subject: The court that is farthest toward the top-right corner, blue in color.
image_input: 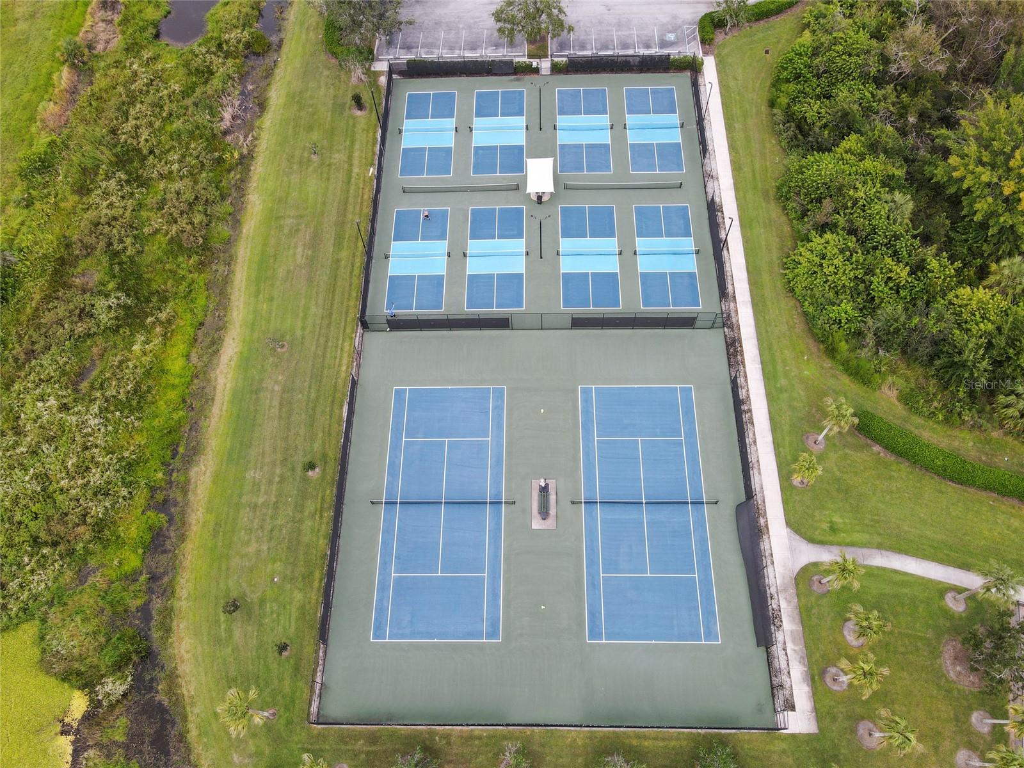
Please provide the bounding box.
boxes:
[624,86,685,172]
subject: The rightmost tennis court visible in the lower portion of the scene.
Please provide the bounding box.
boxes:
[579,385,721,643]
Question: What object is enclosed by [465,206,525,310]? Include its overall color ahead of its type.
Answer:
blue sports court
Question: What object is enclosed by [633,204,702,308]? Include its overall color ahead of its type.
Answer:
blue sports court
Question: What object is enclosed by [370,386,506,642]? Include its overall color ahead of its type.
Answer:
blue tennis court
